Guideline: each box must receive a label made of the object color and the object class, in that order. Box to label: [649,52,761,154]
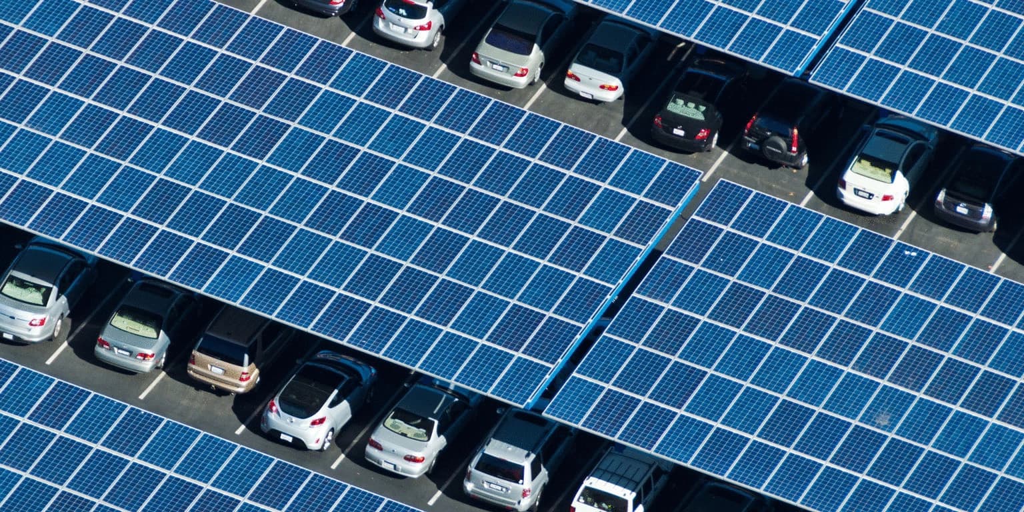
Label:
black car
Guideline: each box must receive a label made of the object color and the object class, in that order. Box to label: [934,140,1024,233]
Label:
black car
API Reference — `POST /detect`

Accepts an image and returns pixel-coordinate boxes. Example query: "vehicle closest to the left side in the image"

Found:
[0,237,112,347]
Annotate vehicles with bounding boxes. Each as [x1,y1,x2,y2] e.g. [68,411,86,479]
[377,0,478,51]
[186,302,305,393]
[92,274,213,376]
[649,52,761,154]
[0,237,112,347]
[934,140,1024,233]
[836,115,944,217]
[741,69,848,168]
[469,0,582,90]
[567,439,682,512]
[463,396,588,512]
[287,0,356,17]
[362,372,482,481]
[683,474,777,512]
[561,13,663,102]
[263,350,377,453]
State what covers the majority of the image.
buildings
